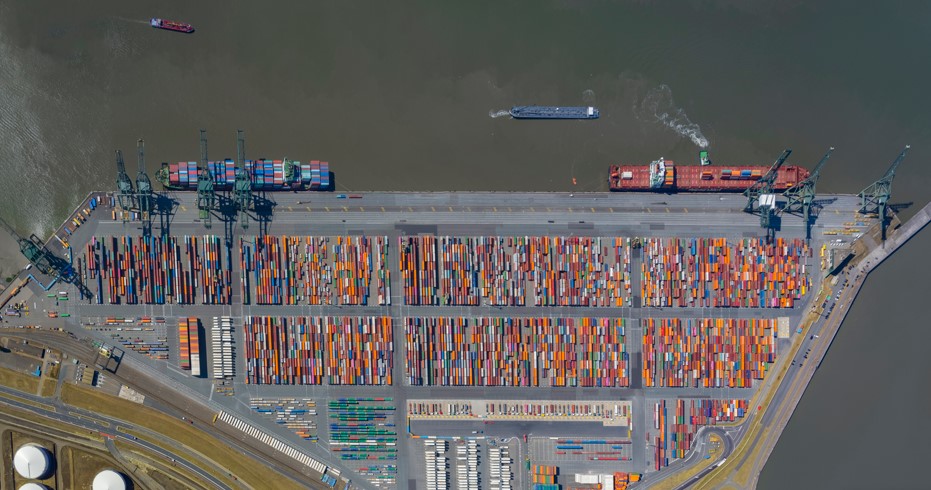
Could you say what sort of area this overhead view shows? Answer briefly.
port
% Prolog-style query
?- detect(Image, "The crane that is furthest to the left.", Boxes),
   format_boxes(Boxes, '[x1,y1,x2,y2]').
[0,224,64,284]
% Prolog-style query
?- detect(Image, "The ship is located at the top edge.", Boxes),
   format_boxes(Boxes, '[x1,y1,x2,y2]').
[151,18,194,34]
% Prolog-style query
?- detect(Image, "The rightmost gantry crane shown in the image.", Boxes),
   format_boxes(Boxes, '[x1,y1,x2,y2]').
[856,145,916,235]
